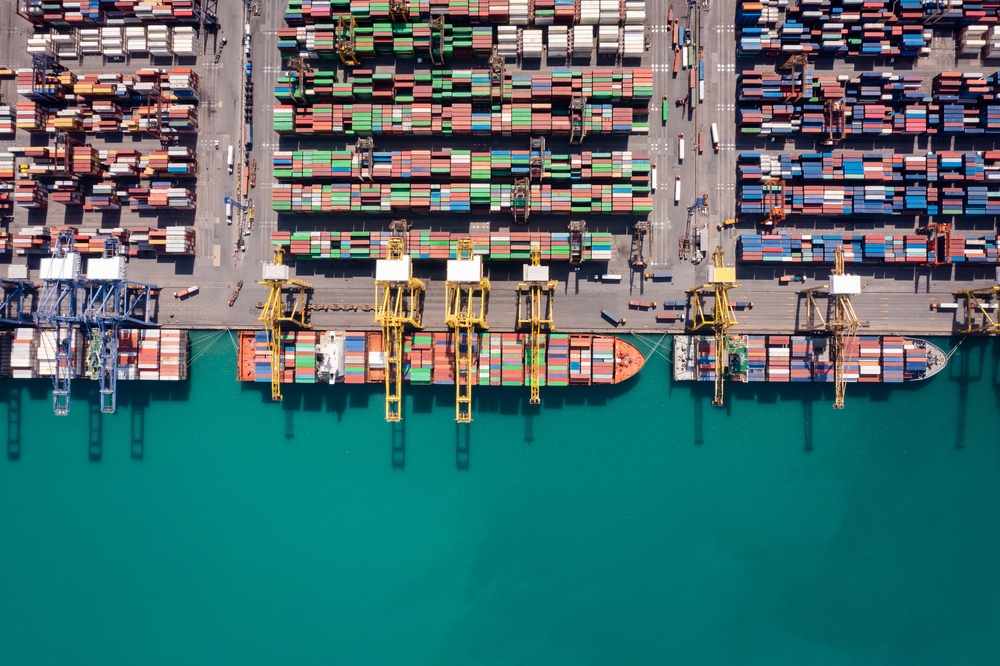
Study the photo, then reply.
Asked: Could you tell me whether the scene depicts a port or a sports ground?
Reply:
port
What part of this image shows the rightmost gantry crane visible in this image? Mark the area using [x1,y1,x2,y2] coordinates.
[951,267,1000,327]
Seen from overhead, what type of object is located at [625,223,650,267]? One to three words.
container crane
